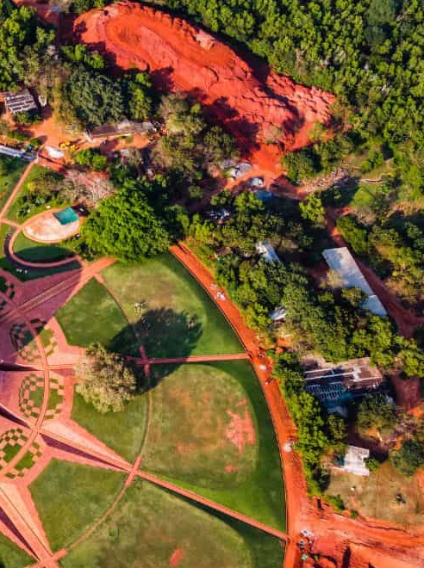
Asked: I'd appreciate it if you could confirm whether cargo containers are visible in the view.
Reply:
No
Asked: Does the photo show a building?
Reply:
Yes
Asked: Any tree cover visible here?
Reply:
Yes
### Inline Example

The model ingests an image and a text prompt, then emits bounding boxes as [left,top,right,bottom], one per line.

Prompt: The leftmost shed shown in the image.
[1,87,38,119]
